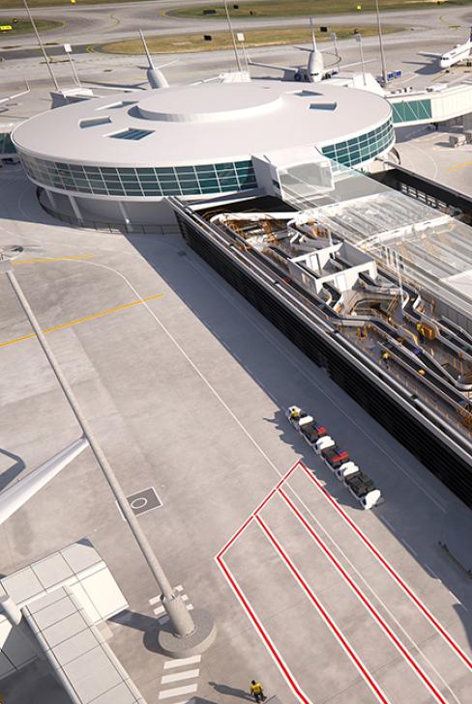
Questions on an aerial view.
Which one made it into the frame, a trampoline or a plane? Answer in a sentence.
There is a plane in the scene.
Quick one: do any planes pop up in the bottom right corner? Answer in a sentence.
No, no plane is visible in the bottom right corner.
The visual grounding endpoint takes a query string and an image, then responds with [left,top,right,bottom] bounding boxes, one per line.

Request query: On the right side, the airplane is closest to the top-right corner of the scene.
[422,24,472,70]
